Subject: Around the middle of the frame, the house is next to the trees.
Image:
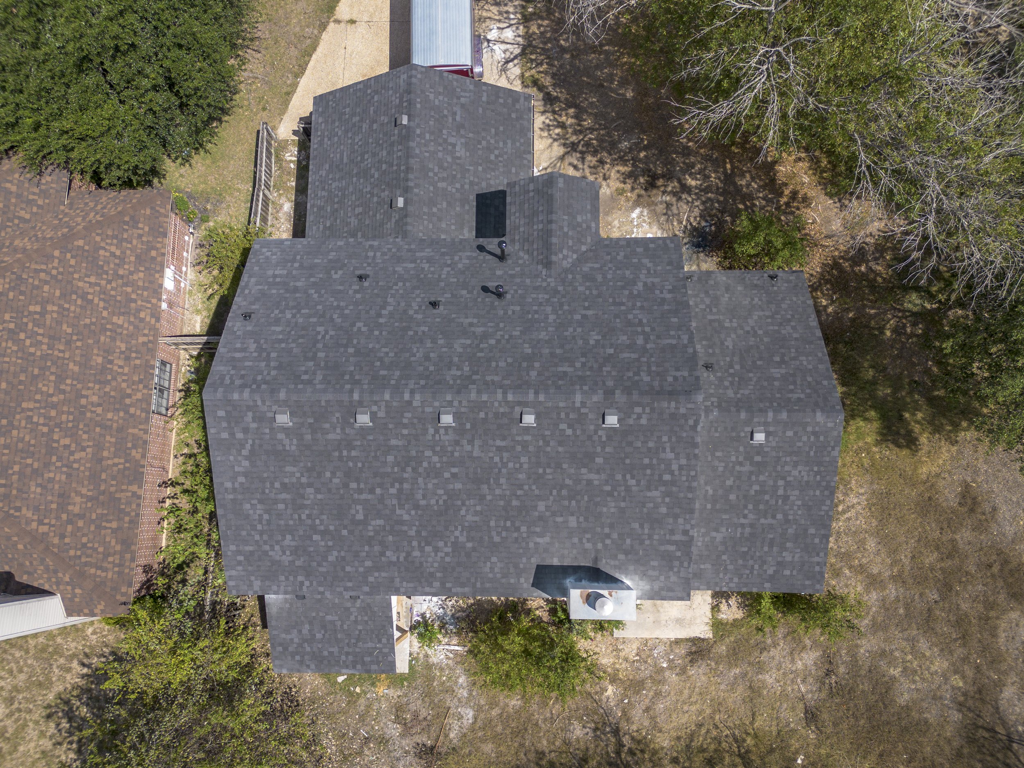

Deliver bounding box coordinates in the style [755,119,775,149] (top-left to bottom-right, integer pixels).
[202,66,843,673]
